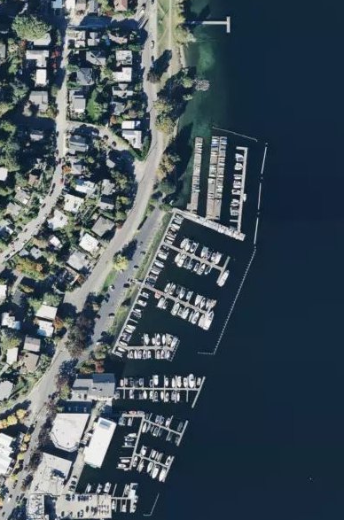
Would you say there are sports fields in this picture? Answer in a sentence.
No, there's no sports field here.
